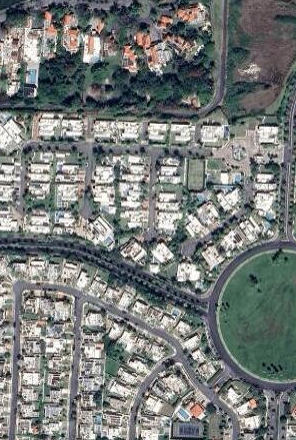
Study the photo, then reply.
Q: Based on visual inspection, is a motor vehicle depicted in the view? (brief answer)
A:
No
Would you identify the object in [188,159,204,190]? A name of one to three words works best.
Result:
tennis court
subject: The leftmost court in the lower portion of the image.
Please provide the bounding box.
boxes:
[173,421,205,440]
